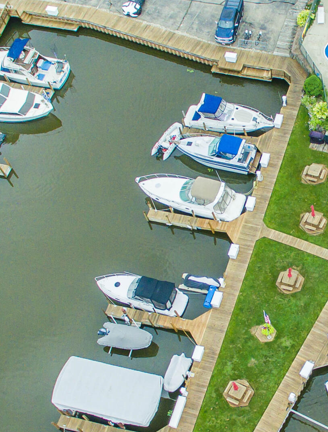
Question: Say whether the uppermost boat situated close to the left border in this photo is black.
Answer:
No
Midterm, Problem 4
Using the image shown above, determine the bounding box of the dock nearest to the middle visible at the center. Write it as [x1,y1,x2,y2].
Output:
[143,202,244,242]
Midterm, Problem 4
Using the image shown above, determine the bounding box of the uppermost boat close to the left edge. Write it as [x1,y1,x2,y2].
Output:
[0,33,73,90]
